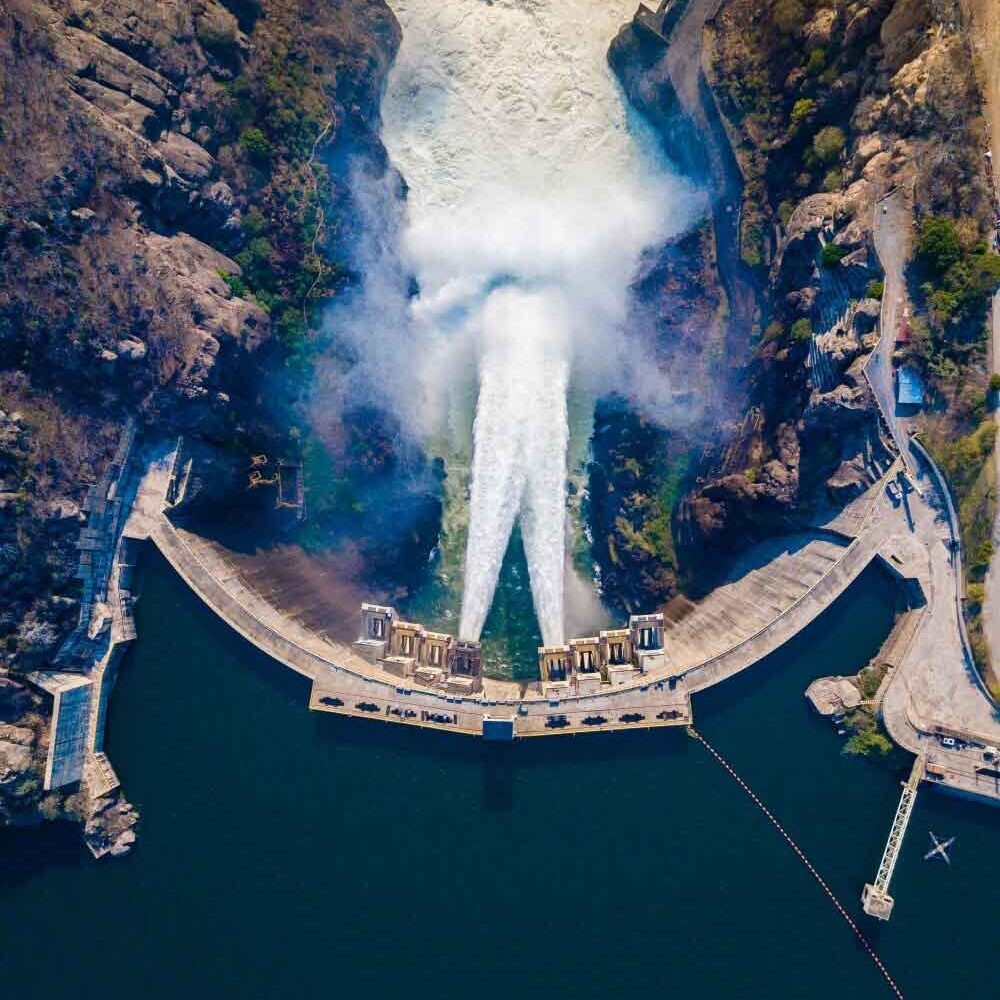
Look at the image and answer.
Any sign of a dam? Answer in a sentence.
Yes, I can see a dam in this picture.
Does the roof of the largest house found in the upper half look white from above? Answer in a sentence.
No, the color of the roof of the largest house found in the upper half is blue.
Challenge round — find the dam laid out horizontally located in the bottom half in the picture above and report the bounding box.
[150,500,878,739]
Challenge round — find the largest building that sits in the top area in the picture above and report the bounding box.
[893,365,924,404]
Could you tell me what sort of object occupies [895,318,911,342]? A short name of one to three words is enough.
shed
